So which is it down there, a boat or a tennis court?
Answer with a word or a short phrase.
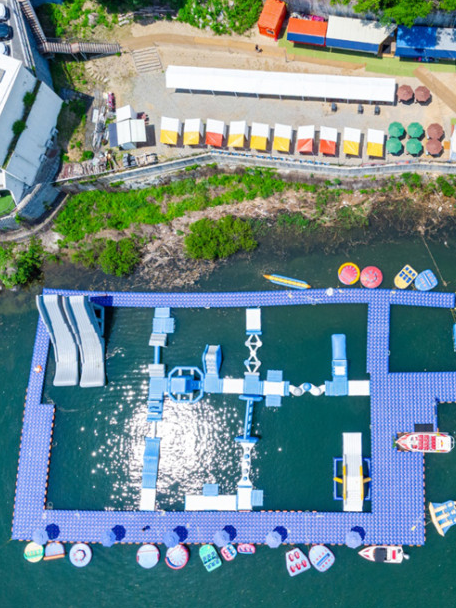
boat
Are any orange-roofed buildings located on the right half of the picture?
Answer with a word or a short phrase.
Yes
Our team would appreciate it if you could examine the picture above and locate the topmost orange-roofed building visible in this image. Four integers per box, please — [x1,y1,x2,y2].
[287,19,327,51]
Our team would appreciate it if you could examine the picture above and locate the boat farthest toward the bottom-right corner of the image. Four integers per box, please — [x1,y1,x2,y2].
[361,546,408,562]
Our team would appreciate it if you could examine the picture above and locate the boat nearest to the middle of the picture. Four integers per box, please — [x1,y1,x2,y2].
[263,273,311,292]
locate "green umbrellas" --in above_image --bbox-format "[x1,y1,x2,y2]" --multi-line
[405,140,422,156]
[387,123,404,140]
[406,123,423,140]
[386,139,402,156]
